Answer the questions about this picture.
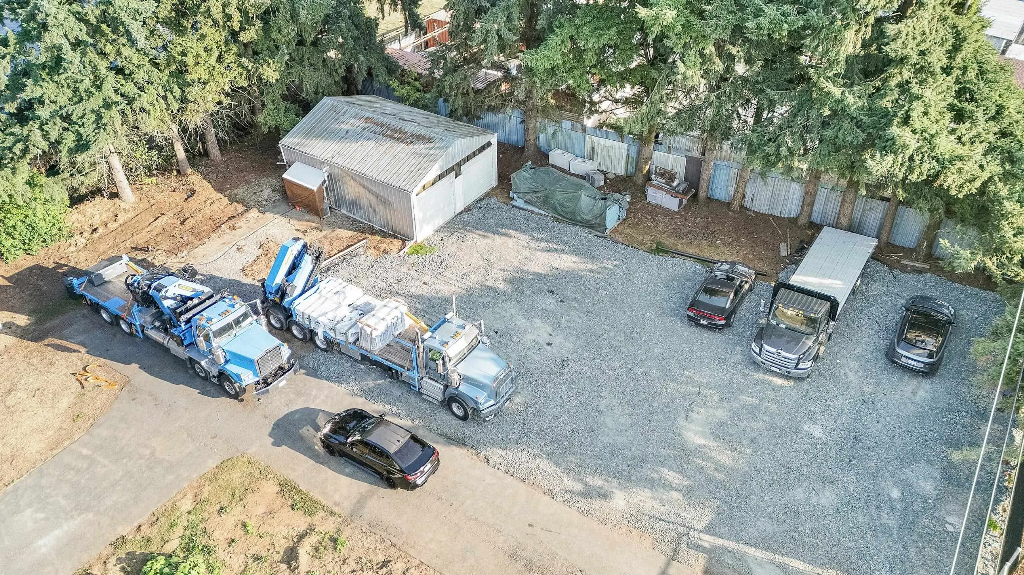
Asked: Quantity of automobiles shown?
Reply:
3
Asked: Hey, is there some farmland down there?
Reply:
No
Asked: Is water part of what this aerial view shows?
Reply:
No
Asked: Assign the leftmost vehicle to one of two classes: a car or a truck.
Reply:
truck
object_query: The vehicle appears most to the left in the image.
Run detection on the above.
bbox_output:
[67,244,301,400]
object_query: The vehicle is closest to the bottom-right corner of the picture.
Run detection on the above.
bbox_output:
[884,298,956,381]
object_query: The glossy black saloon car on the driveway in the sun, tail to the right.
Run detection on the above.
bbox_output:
[320,409,445,491]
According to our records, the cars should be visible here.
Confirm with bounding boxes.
[884,298,956,381]
[320,409,445,491]
[685,262,759,335]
